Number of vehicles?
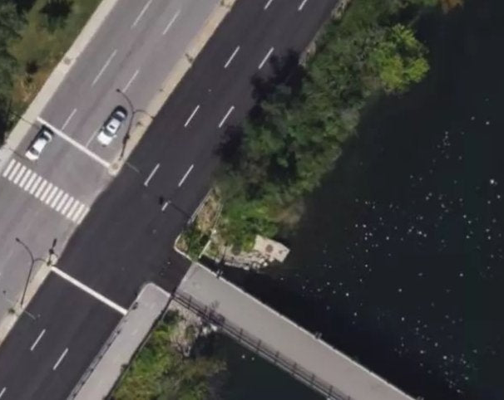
2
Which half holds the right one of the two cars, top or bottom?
top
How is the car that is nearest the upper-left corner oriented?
on a diagonal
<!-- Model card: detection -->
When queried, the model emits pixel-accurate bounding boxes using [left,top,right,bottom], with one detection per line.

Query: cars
[97,107,128,144]
[26,129,54,162]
